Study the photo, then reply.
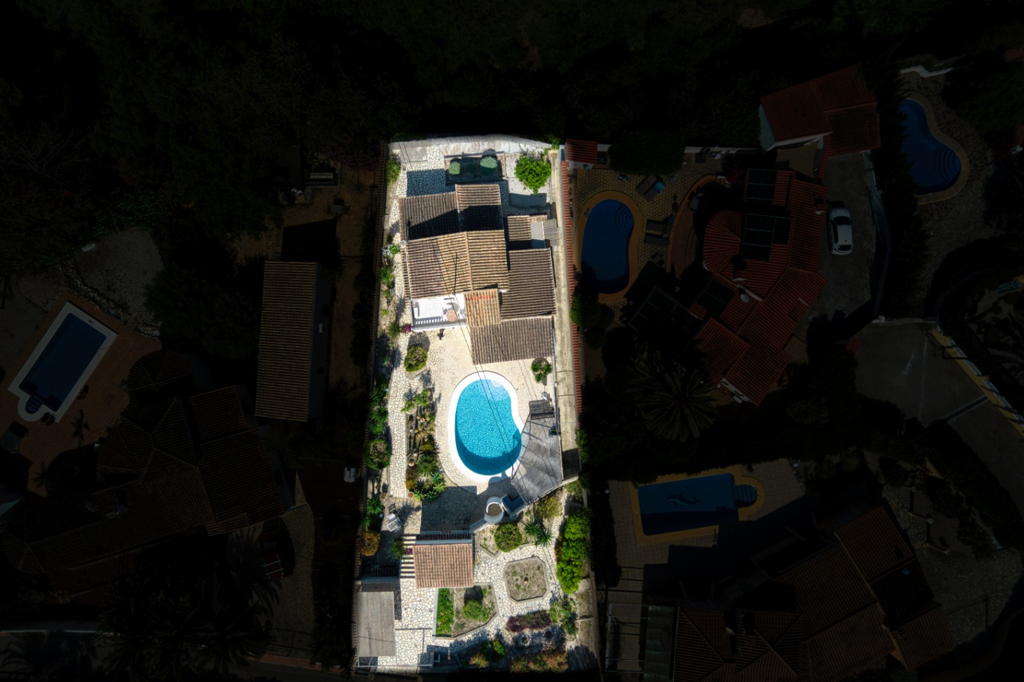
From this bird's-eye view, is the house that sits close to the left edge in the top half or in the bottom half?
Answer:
bottom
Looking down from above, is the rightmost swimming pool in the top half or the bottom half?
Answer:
top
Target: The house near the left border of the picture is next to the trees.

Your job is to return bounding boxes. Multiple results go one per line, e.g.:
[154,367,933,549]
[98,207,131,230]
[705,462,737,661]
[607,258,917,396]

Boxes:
[0,350,296,574]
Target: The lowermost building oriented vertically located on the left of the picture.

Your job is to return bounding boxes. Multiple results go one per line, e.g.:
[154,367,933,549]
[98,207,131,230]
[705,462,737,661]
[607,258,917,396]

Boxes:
[357,560,405,657]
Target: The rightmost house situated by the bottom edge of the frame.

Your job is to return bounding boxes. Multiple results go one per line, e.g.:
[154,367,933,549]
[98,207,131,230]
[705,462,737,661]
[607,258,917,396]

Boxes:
[670,501,956,682]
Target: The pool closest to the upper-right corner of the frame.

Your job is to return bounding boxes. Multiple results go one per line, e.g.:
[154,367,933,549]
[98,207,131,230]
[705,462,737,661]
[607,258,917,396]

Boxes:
[883,91,971,204]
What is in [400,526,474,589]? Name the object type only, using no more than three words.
building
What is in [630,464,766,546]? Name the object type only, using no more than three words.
swimming pool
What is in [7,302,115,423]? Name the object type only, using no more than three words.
swimming pool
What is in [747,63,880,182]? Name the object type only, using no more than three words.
house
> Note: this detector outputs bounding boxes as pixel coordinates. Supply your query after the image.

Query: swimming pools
[883,91,971,204]
[630,464,766,546]
[574,190,643,303]
[7,302,115,423]
[448,371,529,483]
